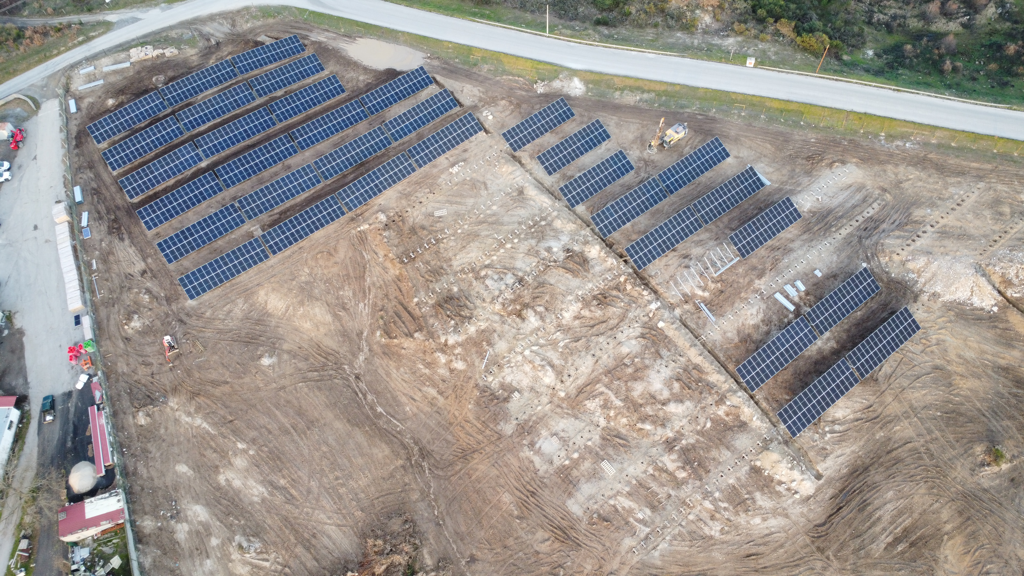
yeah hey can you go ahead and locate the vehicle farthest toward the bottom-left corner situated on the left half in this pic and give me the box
[39,394,56,424]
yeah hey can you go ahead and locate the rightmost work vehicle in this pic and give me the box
[164,333,181,362]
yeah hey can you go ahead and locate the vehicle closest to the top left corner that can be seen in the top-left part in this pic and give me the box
[7,127,27,152]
